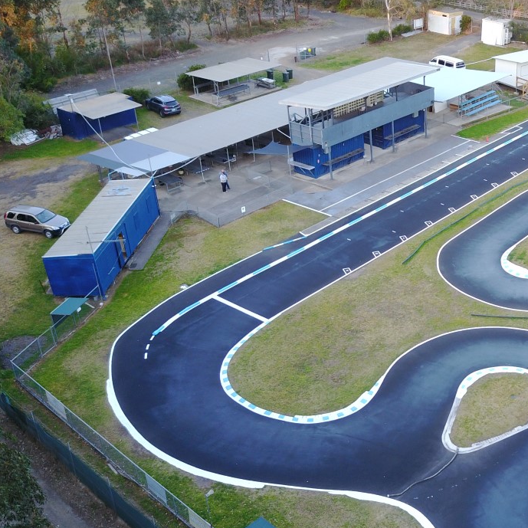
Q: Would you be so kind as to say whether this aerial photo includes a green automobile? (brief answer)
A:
No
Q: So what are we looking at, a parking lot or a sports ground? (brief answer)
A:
sports ground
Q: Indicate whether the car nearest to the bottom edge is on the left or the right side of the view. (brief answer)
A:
left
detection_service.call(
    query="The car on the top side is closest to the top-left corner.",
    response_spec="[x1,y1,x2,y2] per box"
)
[139,94,183,117]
